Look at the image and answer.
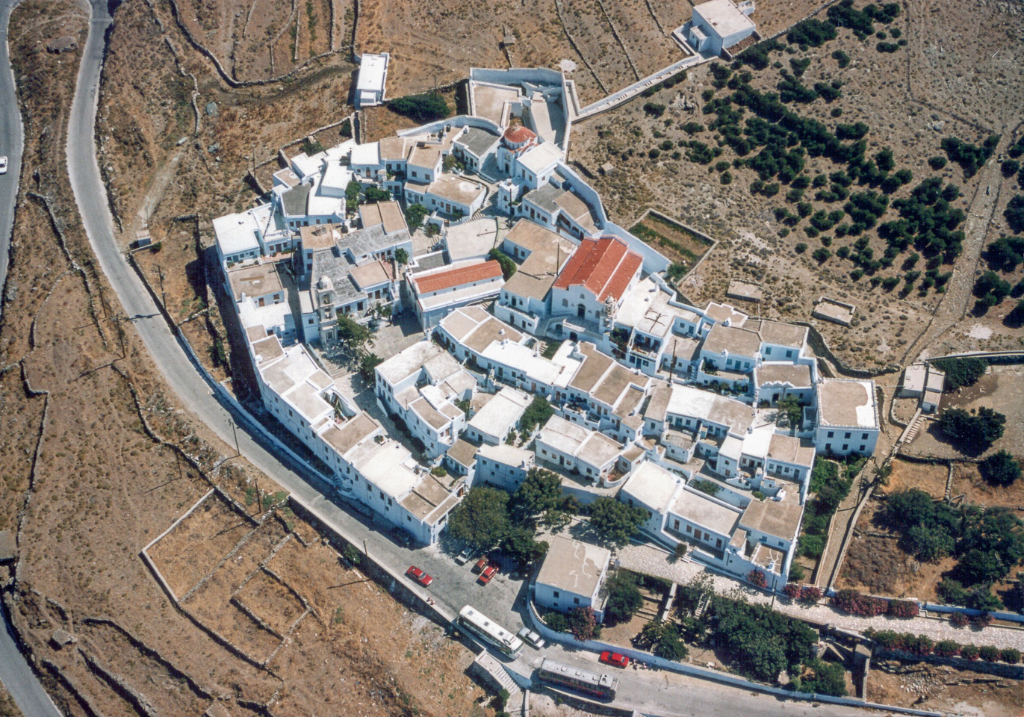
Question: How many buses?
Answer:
2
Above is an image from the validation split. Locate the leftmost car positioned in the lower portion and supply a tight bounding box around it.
[405,567,435,586]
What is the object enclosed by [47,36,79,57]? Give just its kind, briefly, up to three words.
building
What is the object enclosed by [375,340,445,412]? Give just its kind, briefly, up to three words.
house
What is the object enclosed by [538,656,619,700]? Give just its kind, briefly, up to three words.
bus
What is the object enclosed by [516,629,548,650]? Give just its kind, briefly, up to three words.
car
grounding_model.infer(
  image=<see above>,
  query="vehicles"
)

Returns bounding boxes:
[599,651,629,667]
[405,567,435,586]
[457,604,528,662]
[468,553,491,574]
[451,546,477,566]
[476,562,501,585]
[538,656,619,700]
[0,158,7,173]
[516,629,548,650]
